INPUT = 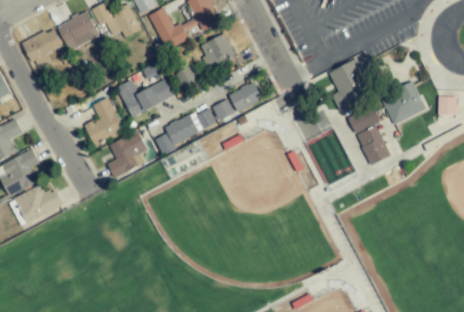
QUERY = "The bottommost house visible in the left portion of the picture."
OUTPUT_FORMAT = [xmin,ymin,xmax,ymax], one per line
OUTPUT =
[10,188,61,229]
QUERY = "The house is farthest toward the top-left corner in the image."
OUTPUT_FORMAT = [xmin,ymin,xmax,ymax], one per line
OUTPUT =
[21,28,64,64]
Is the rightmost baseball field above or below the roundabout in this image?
below it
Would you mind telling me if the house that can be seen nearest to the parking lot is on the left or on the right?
right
